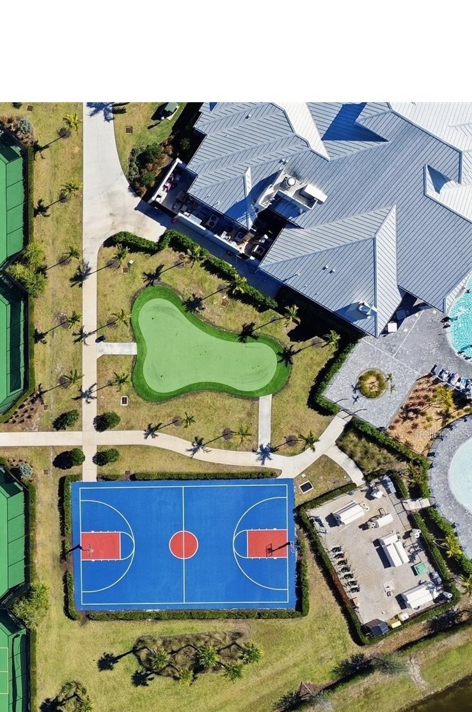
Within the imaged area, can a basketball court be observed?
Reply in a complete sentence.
Yes, a basketball court can be made out from above.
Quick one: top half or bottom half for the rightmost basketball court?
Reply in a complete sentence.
You can find the rightmost basketball court in the bottom half.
